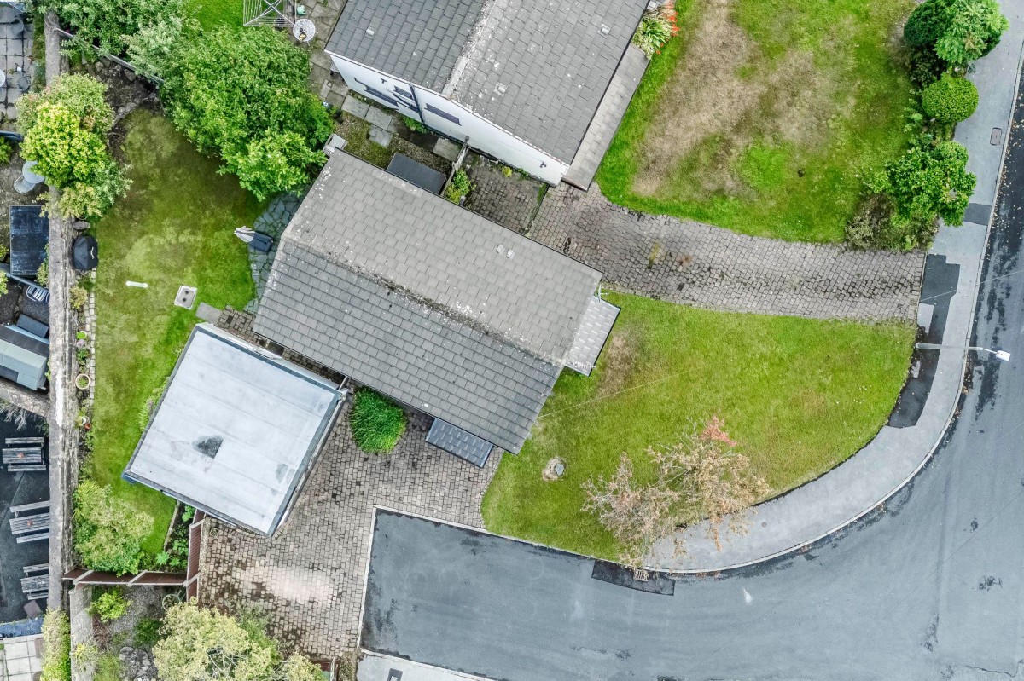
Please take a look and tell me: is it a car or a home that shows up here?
home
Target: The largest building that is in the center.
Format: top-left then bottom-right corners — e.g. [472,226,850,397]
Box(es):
[254,150,622,469]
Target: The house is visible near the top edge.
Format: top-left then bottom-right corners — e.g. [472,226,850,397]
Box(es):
[323,0,652,191]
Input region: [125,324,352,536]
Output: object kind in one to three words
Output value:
building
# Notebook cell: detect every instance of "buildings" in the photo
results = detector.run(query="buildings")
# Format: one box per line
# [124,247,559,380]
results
[323,0,652,191]
[0,323,51,390]
[125,324,352,536]
[254,150,622,469]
